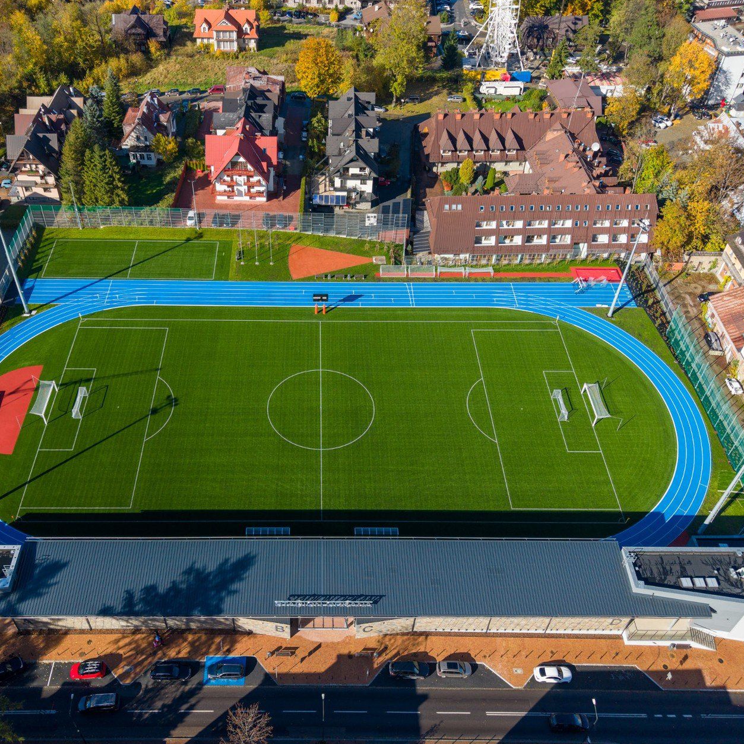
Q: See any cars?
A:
Yes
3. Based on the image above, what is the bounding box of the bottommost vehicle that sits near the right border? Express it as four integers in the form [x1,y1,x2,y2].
[723,373,744,395]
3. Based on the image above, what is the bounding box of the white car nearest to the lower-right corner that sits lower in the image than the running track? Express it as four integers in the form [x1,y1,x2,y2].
[535,663,574,682]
